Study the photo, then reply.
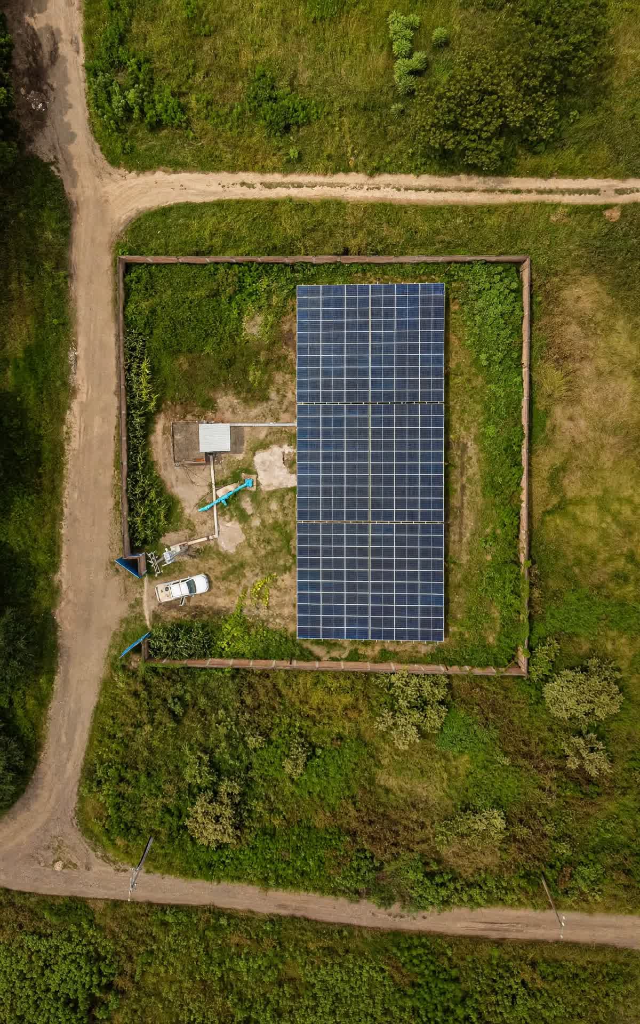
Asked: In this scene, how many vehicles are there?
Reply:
1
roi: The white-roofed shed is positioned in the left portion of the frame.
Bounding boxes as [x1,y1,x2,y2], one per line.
[199,424,231,458]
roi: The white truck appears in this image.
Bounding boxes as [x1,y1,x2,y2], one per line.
[154,575,211,606]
